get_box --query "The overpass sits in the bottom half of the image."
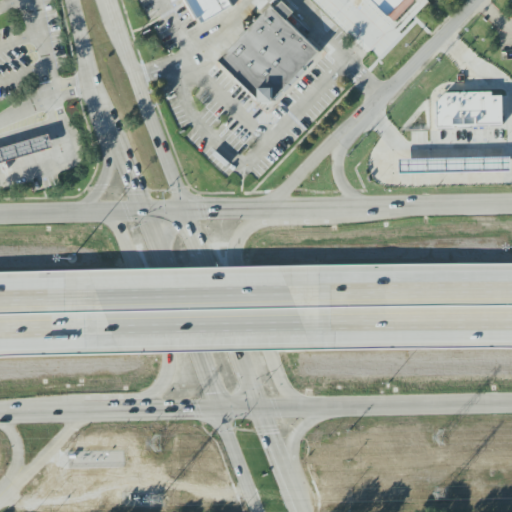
[0,262,512,356]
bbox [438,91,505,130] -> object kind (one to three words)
building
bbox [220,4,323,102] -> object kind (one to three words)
building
